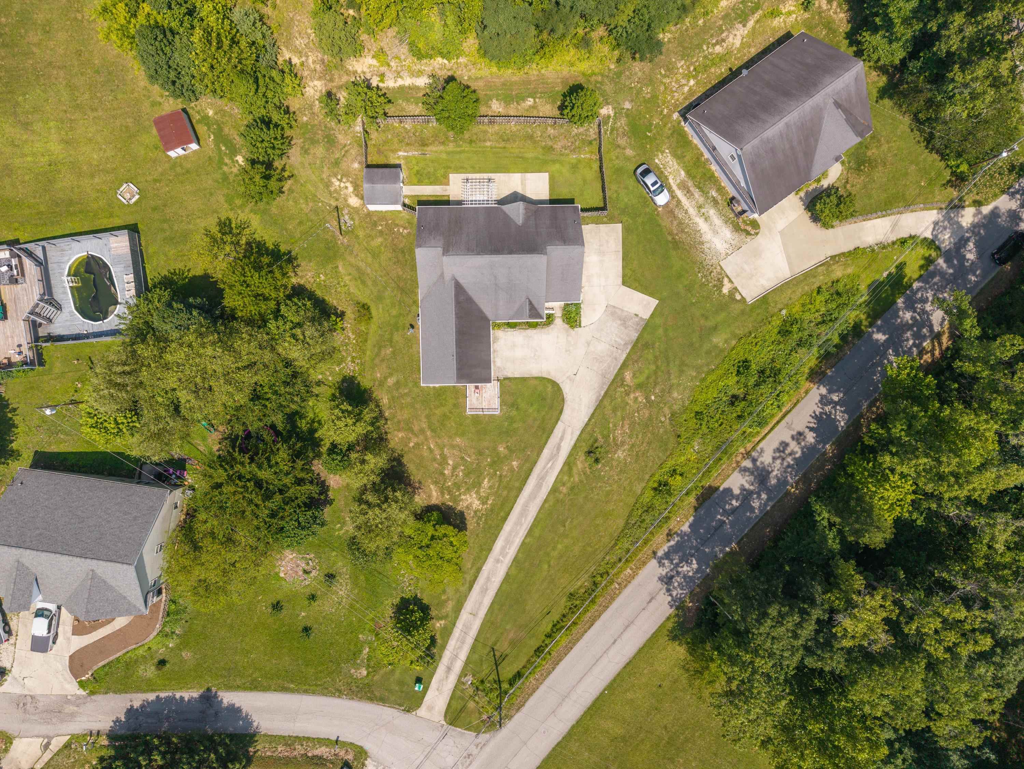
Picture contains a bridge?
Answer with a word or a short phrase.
No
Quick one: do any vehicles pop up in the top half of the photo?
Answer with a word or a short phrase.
Yes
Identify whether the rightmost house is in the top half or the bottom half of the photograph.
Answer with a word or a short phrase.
top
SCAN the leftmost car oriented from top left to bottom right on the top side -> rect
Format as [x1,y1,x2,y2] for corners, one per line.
[634,164,669,210]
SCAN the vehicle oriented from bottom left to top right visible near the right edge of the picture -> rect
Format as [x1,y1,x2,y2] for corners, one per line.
[989,225,1024,267]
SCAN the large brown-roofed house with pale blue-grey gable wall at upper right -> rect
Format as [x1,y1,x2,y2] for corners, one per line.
[686,30,874,217]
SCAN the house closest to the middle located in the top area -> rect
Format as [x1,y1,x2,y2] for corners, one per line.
[415,201,584,386]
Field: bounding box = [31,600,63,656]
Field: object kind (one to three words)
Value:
truck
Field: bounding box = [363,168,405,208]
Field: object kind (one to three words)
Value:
shed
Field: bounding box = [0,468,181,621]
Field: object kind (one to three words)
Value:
house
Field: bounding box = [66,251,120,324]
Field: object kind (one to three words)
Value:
swimming pool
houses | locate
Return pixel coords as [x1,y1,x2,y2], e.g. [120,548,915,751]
[415,201,584,386]
[0,468,181,621]
[686,30,874,217]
